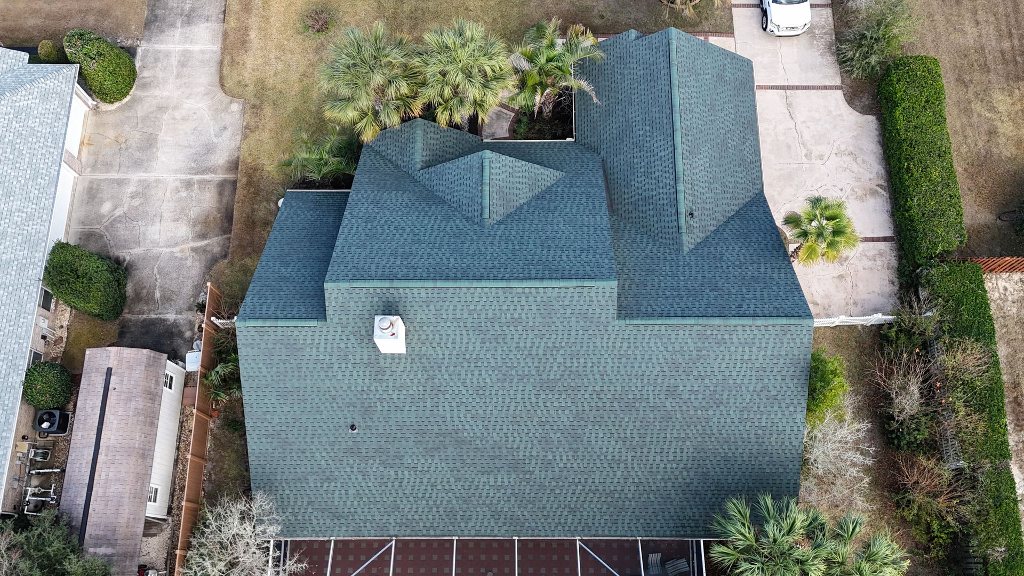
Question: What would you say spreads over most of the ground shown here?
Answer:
buildings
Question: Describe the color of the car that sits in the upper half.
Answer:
white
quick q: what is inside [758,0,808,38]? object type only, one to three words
car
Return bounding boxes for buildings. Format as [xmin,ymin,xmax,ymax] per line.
[237,29,814,543]
[50,347,184,576]
[0,48,96,517]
